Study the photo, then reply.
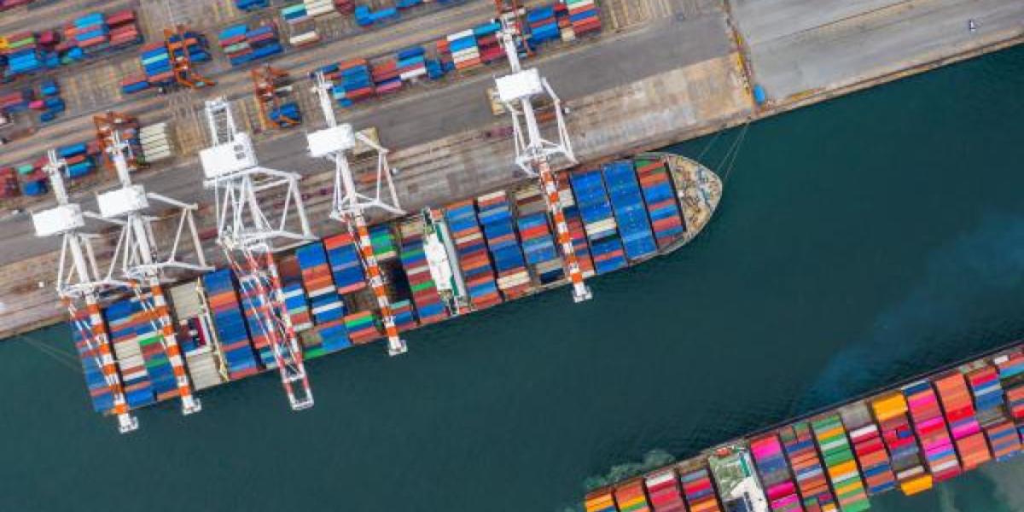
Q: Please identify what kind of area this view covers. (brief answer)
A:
port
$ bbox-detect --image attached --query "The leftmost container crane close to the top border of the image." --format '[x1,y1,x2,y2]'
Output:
[157,19,219,91]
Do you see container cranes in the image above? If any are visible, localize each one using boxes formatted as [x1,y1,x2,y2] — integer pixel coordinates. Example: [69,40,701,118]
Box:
[96,133,225,415]
[198,98,328,410]
[97,107,161,175]
[157,19,219,91]
[496,0,545,63]
[256,61,314,131]
[490,20,591,302]
[303,74,416,356]
[34,151,167,433]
